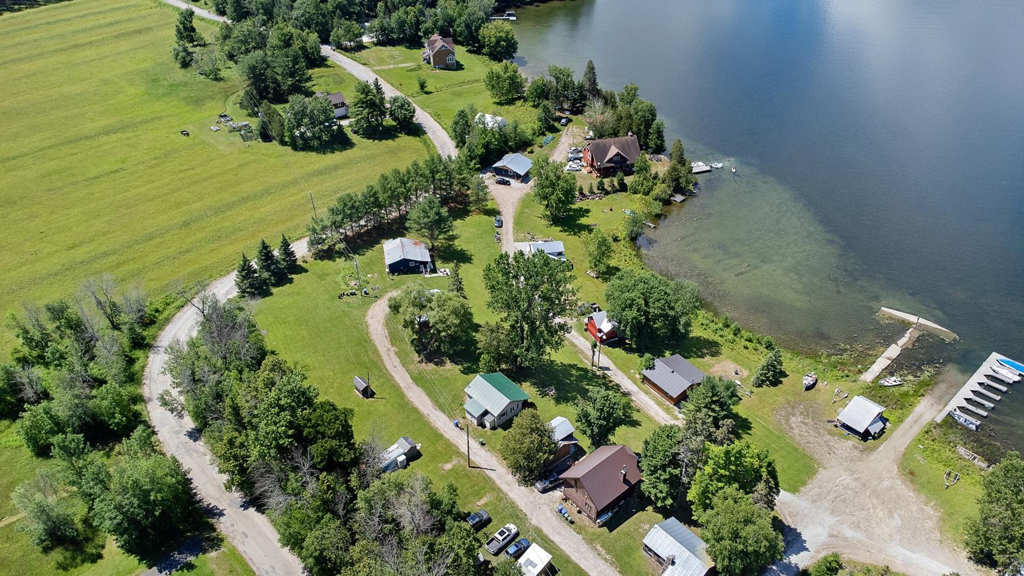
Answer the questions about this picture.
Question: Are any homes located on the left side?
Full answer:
Yes, you'll find a home on the left side.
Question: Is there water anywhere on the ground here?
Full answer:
Yes, the picture does contain water.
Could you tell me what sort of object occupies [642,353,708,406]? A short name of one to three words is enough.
house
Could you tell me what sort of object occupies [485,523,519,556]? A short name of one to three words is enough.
truck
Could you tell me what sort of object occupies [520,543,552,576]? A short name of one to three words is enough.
shed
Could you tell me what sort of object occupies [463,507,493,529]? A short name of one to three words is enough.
car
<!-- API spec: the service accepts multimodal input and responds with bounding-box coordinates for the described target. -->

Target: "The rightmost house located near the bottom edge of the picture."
[639,519,718,576]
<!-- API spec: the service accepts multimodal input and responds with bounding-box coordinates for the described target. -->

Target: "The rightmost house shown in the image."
[837,395,885,446]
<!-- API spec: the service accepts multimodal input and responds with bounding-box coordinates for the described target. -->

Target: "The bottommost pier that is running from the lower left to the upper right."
[933,352,1024,425]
